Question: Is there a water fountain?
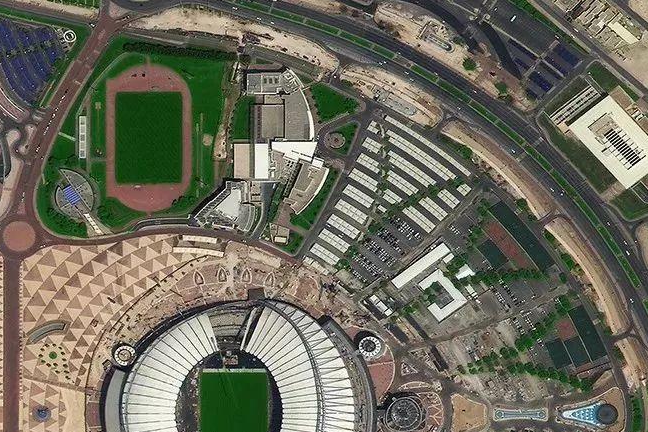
Yes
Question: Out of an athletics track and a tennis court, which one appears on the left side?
athletics track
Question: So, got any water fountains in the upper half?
No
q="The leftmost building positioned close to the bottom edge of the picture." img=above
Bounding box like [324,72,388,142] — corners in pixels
[386,396,424,432]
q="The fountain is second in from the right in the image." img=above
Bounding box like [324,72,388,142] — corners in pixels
[493,408,549,421]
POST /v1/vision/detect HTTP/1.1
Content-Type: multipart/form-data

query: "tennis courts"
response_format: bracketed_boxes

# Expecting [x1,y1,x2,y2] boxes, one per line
[483,220,538,270]
[488,201,554,272]
[564,337,591,368]
[568,305,607,362]
[546,338,573,369]
[557,317,578,341]
[478,240,508,270]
